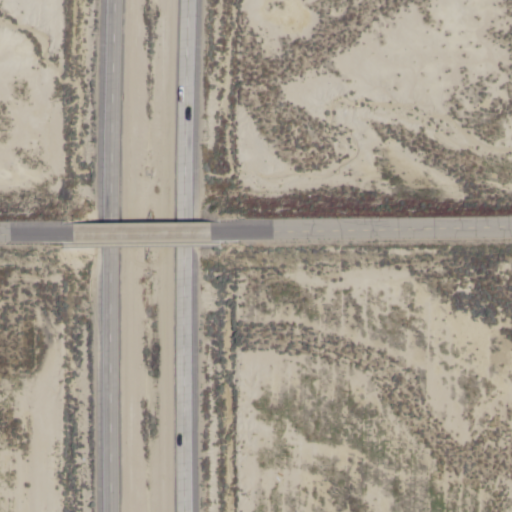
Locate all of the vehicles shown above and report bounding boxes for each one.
[186,108,191,119]
[180,88,184,100]
[177,434,182,446]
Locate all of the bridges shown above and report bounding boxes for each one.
[58,222,227,248]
